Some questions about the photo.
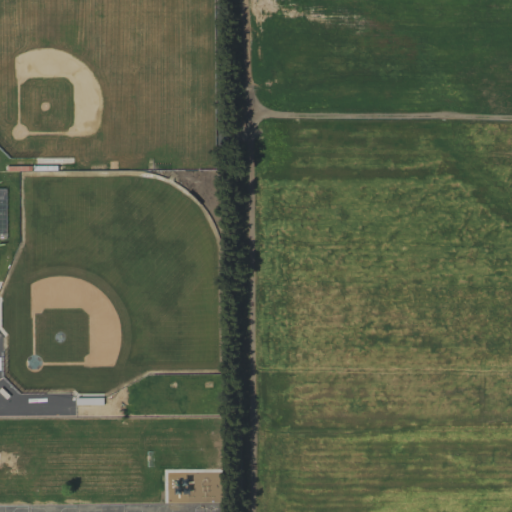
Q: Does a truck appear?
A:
No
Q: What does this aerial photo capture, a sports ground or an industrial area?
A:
sports ground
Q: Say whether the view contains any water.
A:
No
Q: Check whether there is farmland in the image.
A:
Yes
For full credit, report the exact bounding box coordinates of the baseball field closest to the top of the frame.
[0,0,217,169]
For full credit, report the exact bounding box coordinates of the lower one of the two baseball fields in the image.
[0,170,222,395]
